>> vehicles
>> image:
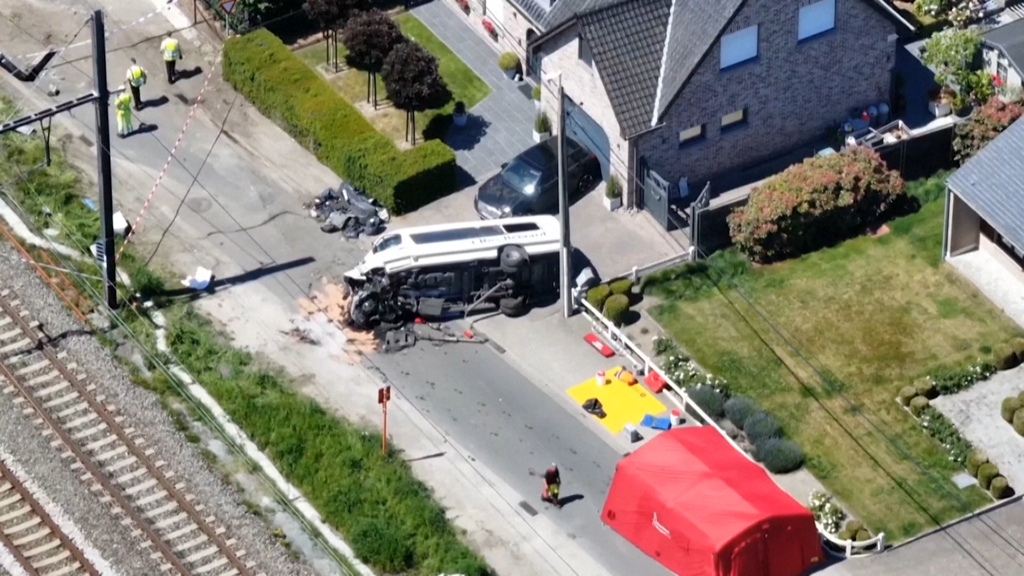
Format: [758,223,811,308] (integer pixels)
[475,126,603,224]
[340,219,575,327]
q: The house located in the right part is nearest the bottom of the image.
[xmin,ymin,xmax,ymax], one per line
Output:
[941,115,1024,288]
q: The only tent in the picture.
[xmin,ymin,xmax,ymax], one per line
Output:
[601,429,825,576]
